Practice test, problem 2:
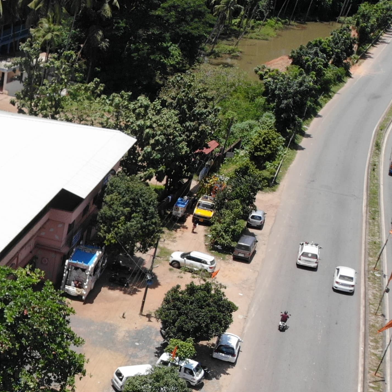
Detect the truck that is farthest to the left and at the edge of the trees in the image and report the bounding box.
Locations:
[64,230,112,293]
